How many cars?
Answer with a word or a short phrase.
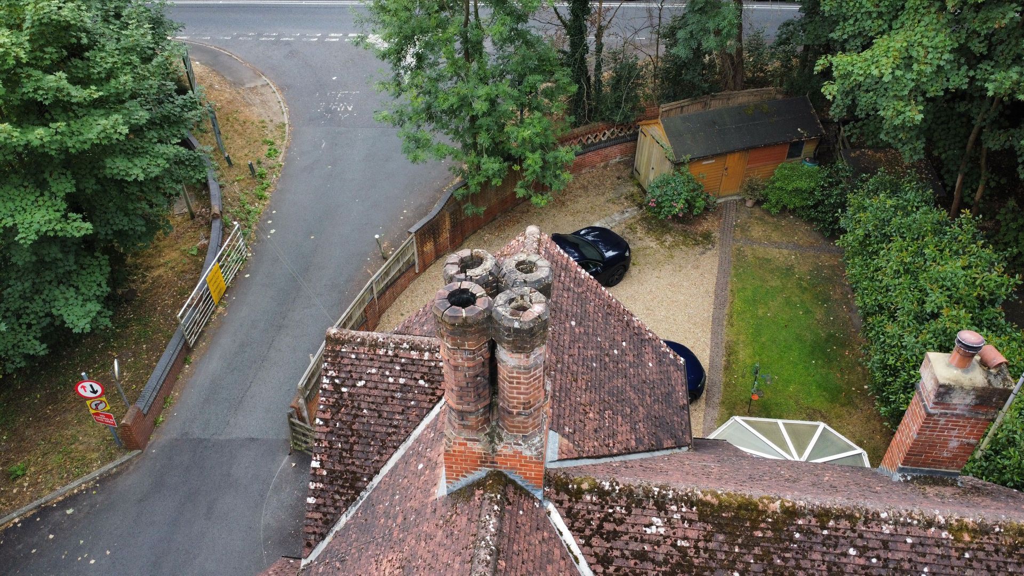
2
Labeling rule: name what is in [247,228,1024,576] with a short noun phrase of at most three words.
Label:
house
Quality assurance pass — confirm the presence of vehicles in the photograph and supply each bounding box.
[652,331,709,398]
[540,232,635,288]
